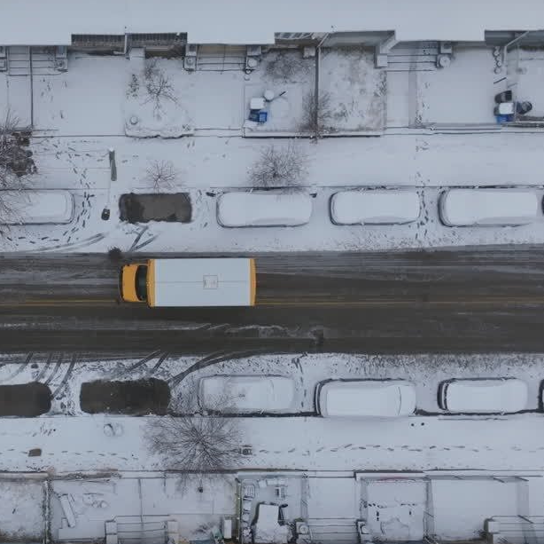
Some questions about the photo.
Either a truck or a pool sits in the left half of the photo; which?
truck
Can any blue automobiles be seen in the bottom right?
No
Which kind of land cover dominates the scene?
paved ground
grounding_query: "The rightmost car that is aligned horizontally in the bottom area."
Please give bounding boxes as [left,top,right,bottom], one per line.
[432,376,528,417]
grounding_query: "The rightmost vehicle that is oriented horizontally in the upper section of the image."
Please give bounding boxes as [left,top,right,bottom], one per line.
[433,187,540,228]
